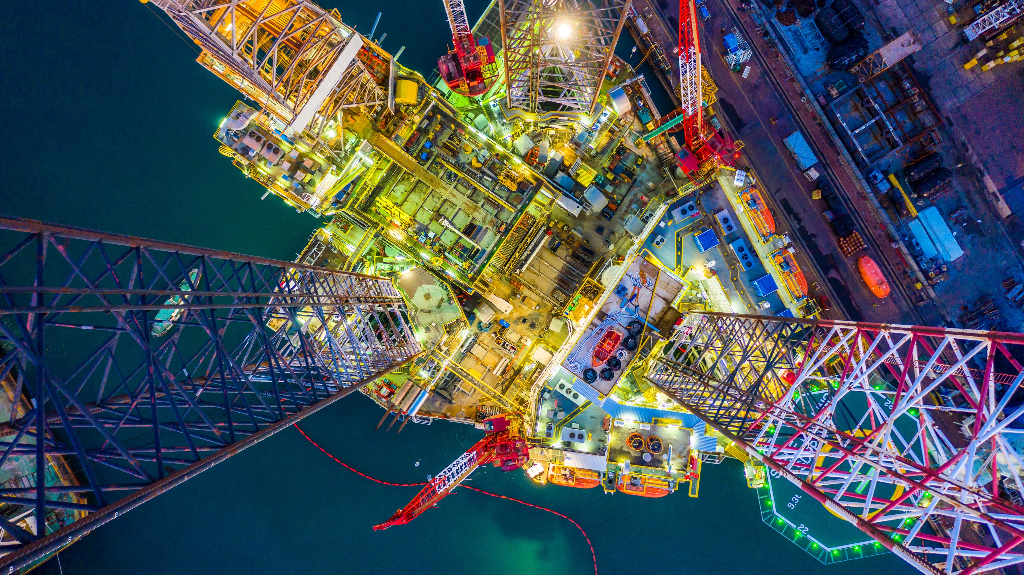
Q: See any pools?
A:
No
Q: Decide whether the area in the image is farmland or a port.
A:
port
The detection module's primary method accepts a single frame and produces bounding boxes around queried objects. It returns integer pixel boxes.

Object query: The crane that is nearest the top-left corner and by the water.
[437,0,500,100]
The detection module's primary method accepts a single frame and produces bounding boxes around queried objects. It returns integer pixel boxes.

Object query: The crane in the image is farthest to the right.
[661,0,745,192]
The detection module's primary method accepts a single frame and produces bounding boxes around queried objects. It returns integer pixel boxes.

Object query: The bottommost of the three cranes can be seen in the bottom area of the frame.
[369,411,529,534]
